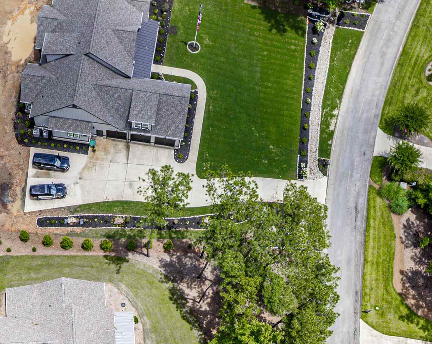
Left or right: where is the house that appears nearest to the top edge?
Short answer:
left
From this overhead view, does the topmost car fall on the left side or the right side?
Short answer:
left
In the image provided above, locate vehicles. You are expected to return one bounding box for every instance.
[37,148,74,170]
[31,183,65,201]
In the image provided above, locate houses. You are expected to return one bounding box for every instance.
[0,278,136,344]
[20,0,191,147]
